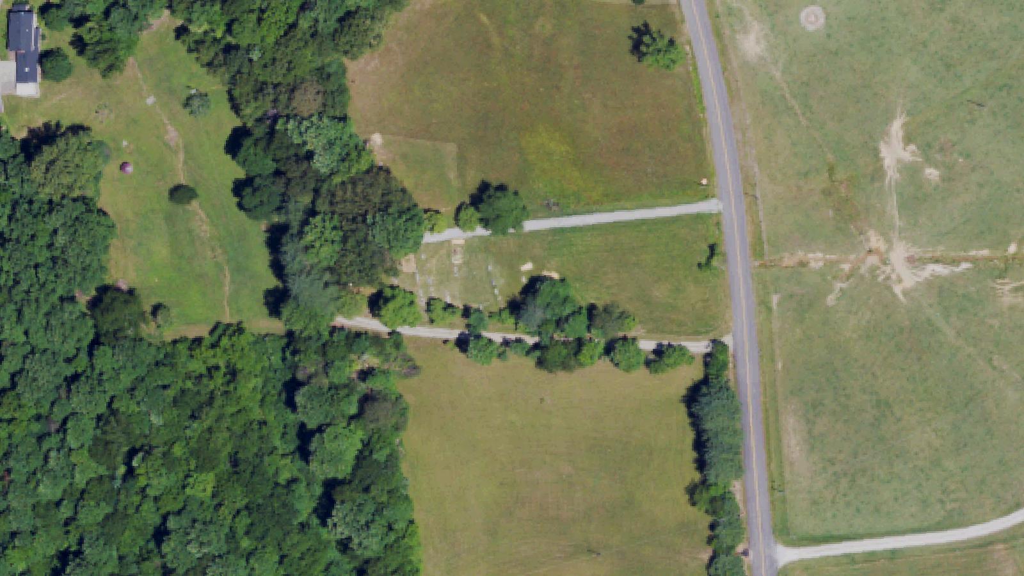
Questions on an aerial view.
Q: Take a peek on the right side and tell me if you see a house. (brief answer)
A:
No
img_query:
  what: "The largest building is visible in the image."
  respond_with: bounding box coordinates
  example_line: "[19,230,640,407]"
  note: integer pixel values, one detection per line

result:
[8,4,40,97]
